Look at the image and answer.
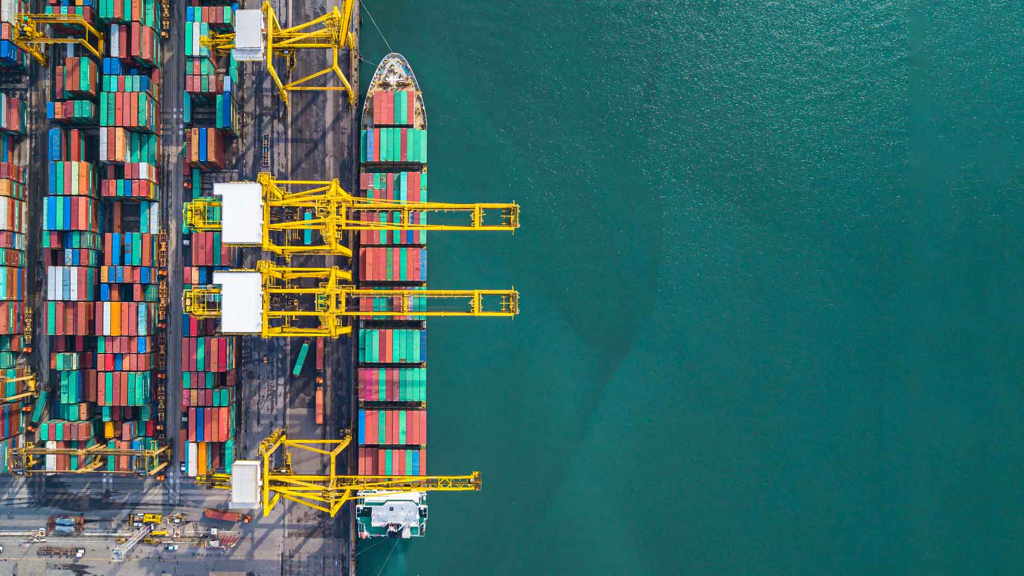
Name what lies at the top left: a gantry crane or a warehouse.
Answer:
gantry crane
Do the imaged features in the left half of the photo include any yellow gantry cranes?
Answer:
Yes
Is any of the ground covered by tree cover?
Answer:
No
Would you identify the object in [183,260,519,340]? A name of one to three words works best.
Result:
container crane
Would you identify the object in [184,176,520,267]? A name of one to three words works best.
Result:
container crane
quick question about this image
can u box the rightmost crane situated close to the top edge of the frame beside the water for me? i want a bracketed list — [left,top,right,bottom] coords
[196,0,356,115]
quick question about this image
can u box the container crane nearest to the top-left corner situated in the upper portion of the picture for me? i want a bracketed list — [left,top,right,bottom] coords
[18,14,112,62]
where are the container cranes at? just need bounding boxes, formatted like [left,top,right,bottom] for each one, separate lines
[82,435,175,473]
[18,14,112,62]
[196,0,356,115]
[184,176,520,267]
[192,423,480,517]
[9,434,106,472]
[0,368,39,398]
[183,260,519,340]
